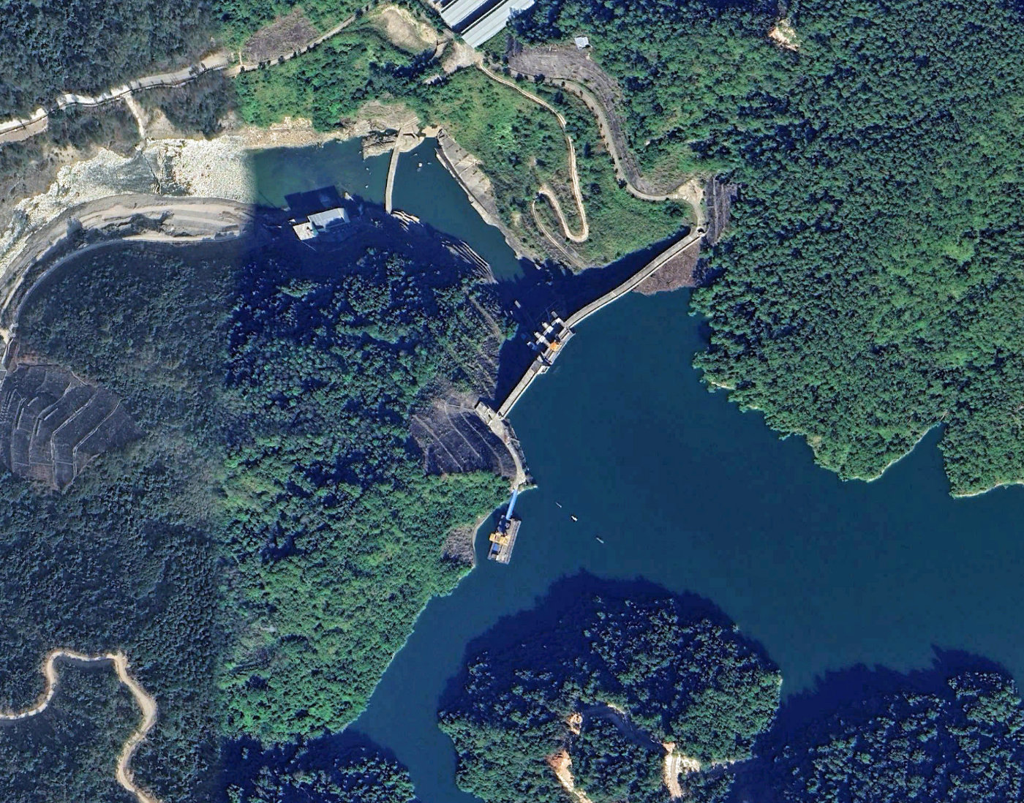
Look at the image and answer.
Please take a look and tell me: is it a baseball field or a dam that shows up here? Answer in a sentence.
Of the two, only a dam appears.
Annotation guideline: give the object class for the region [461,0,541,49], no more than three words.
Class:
shed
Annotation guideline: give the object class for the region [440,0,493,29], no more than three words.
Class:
shed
